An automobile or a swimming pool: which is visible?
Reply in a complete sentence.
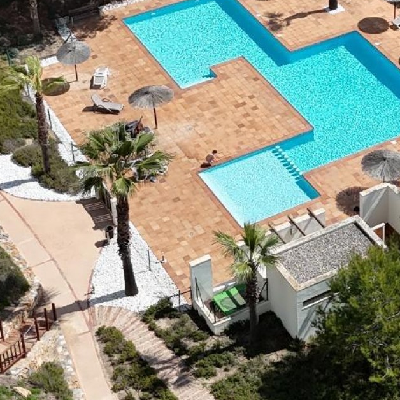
There is a swimming pool in the scene.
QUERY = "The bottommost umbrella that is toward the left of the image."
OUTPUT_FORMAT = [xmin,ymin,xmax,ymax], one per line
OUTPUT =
[129,84,173,129]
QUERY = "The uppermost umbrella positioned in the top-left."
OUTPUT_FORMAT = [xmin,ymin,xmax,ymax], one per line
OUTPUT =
[55,42,92,81]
